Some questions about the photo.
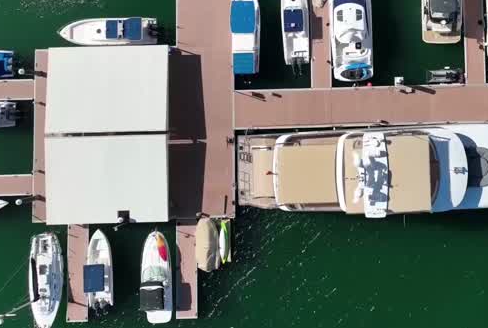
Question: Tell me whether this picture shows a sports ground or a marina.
marina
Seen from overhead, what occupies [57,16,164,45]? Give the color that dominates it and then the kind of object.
white boat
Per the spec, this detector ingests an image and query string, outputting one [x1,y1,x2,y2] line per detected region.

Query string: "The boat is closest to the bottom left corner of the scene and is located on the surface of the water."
[0,228,73,328]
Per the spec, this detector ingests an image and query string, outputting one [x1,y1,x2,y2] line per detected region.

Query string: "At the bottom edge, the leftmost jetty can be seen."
[67,224,89,321]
